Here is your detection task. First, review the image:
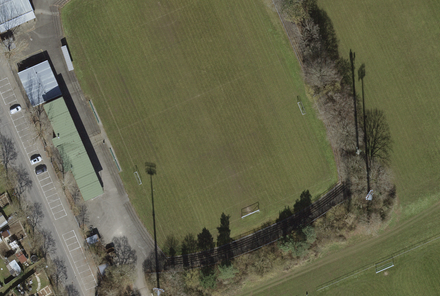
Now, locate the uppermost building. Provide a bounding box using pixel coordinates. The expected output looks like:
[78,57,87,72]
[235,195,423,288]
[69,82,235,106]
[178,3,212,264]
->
[0,0,36,32]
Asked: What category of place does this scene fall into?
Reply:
sports ground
